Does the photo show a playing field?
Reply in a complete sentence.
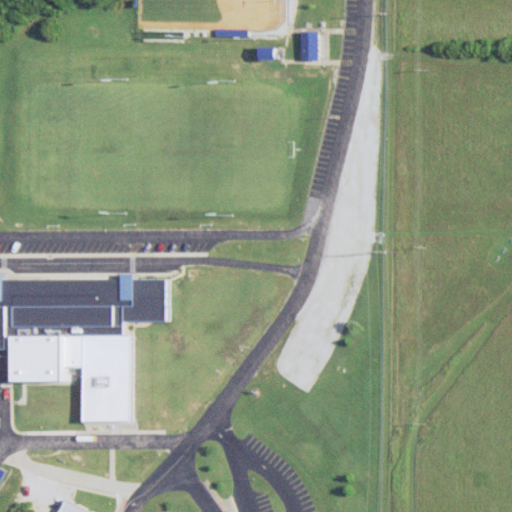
Yes, there's a playing field here.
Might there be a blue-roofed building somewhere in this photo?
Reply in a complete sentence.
Yes, a blue-roofed building is visible in the scene.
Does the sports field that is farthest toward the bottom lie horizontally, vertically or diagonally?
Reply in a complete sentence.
The sports field that is farthest toward the bottom runs horizontally in the image.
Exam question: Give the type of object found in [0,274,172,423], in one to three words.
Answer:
building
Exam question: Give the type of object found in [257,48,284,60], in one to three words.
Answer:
building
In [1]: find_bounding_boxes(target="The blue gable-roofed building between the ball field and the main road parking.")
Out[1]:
[301,32,322,61]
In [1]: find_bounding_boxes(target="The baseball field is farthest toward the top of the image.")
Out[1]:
[138,0,298,38]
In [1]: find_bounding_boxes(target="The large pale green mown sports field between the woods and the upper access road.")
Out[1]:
[31,82,290,213]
